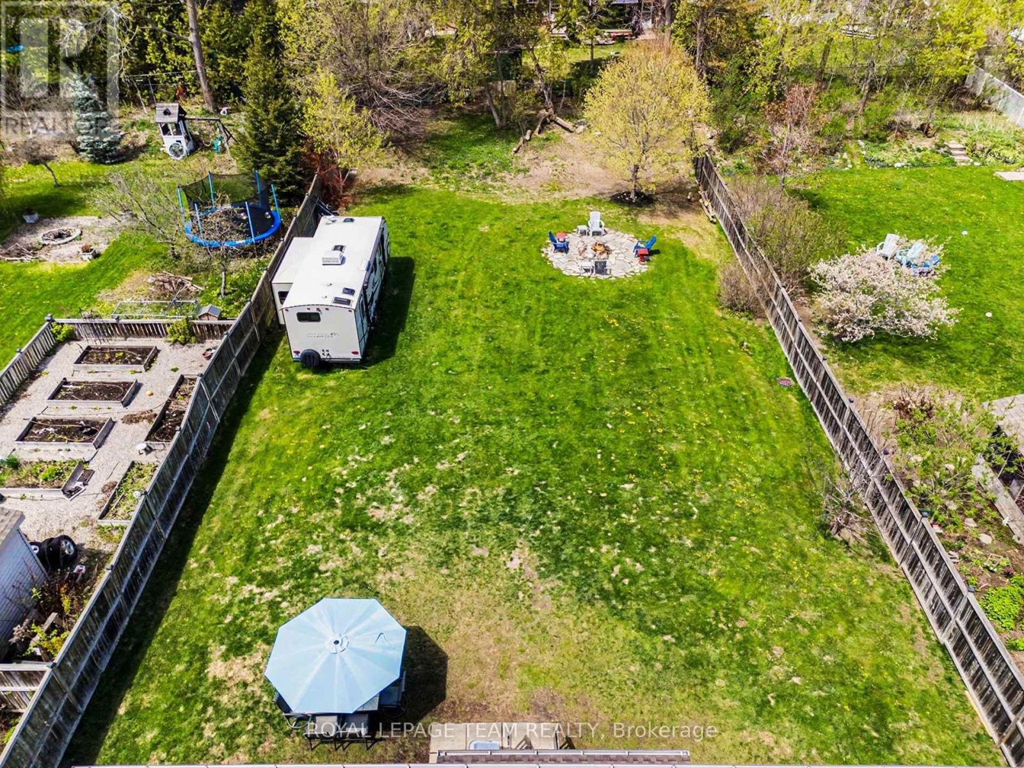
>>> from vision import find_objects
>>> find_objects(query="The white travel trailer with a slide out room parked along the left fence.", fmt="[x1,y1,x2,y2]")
[265,215,389,370]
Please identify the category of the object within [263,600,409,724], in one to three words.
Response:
umbrella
